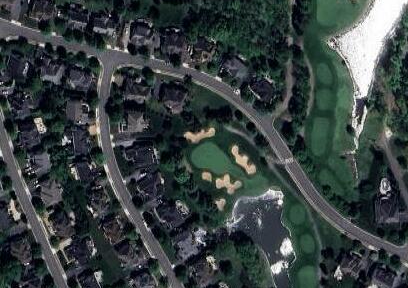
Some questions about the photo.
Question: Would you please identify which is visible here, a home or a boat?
home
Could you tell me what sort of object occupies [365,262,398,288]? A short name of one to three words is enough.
house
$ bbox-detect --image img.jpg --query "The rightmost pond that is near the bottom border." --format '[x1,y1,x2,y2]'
[230,190,296,288]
